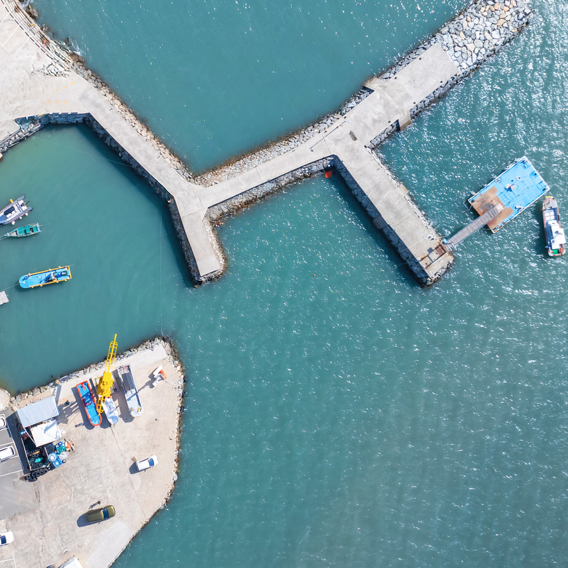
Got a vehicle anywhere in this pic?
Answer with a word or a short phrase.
Yes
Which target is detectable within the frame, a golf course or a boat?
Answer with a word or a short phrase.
boat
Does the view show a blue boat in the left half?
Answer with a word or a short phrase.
Yes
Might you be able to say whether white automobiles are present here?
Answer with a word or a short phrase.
Yes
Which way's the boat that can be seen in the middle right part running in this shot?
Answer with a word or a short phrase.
up and down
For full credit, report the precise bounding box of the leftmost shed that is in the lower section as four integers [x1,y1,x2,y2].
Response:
[16,395,62,471]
